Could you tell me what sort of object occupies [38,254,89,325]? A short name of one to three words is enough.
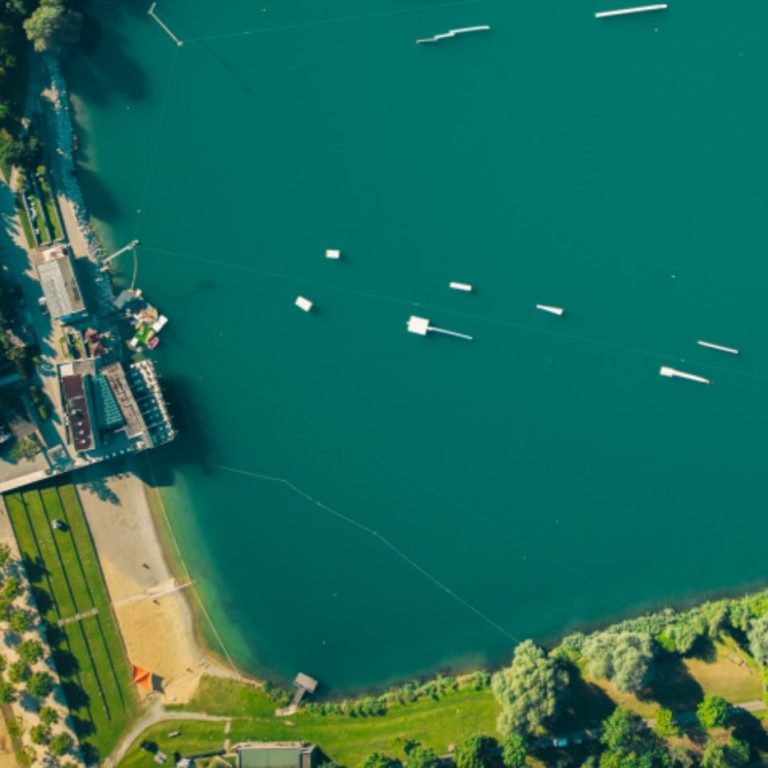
building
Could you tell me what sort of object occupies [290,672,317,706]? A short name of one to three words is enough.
pier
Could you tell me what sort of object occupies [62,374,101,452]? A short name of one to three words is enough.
building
